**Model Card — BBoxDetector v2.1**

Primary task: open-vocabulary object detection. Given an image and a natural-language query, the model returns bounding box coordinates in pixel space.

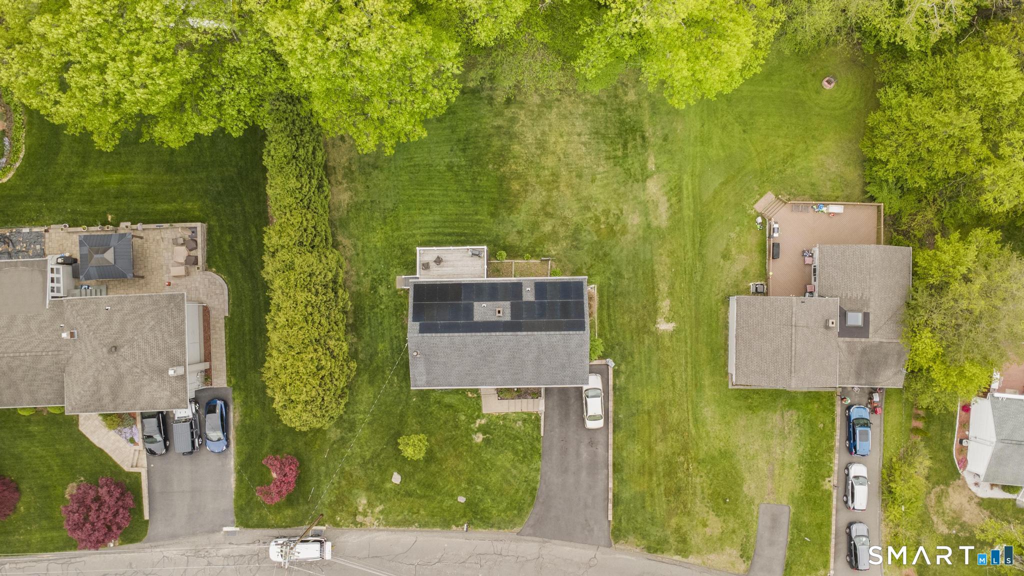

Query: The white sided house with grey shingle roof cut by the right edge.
[969,388,1024,500]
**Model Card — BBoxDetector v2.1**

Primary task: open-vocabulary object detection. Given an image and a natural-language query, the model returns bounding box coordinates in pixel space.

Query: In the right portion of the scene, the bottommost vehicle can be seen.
[844,521,874,573]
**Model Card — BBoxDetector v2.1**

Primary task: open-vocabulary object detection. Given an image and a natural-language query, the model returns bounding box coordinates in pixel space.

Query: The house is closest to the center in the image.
[405,276,591,391]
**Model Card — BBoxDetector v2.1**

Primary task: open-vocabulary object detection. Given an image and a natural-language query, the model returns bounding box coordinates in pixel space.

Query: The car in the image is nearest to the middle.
[582,373,606,429]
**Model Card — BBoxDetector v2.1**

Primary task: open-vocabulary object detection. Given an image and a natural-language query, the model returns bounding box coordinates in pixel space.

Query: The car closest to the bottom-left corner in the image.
[139,413,169,455]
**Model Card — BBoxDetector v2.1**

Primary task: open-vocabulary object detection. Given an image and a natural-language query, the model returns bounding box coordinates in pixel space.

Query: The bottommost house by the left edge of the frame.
[0,257,211,415]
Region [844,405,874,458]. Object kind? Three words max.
car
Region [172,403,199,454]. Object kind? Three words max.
car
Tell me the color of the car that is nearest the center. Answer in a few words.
white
